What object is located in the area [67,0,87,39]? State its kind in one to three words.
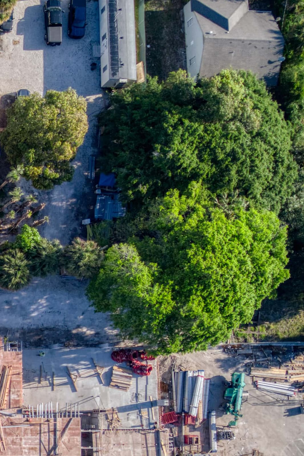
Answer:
car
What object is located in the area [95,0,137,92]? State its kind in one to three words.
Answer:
house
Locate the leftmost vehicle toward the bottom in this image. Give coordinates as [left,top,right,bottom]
[216,369,252,419]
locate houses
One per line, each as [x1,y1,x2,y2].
[185,0,292,88]
[95,0,137,92]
